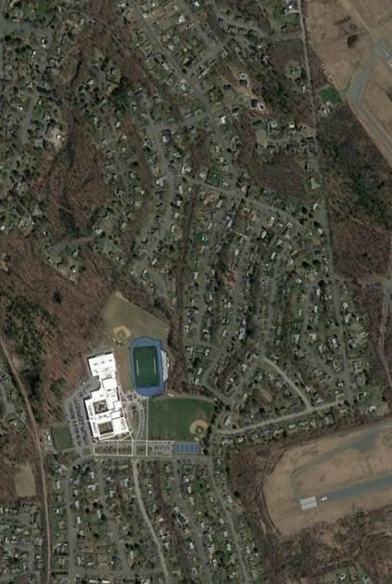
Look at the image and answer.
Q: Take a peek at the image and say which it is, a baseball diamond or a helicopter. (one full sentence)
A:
Looking from above, you can make out a baseball diamond.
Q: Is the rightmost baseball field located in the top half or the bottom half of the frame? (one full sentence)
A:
Seen from above, the rightmost baseball field lies in the bottom half of the view.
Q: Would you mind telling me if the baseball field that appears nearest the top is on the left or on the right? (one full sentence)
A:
The baseball field that appears nearest the top appears in the left half of the scene.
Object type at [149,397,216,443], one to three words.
baseball field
